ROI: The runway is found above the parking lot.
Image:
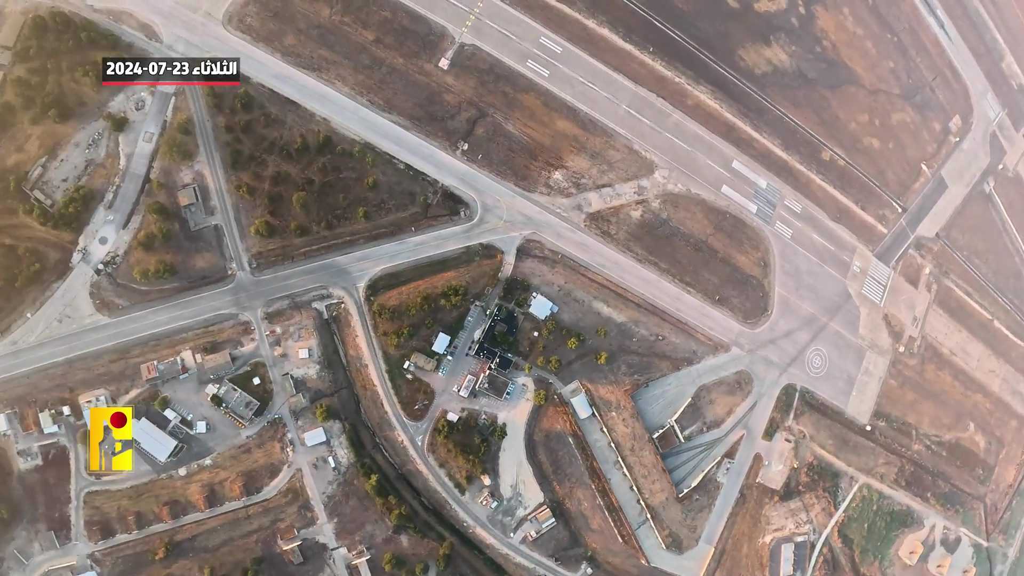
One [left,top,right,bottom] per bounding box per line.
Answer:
[404,0,860,281]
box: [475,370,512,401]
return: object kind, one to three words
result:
building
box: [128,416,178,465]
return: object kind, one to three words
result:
hangar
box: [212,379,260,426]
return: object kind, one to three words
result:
building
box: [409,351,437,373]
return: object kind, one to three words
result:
shed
